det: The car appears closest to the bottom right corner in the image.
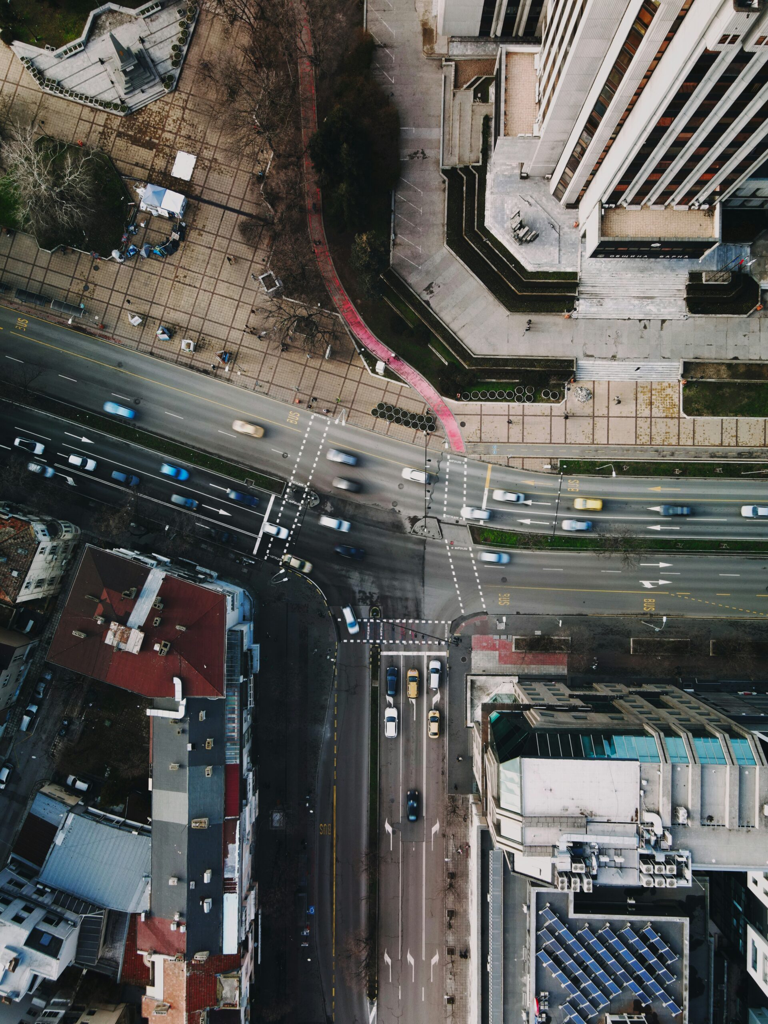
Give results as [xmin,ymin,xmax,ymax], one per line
[405,790,420,822]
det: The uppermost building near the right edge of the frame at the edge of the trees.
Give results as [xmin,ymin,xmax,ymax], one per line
[495,0,768,261]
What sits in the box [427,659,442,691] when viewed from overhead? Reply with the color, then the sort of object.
white car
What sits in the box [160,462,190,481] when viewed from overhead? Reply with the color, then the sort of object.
blue car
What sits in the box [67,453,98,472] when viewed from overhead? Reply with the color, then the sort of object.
white car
